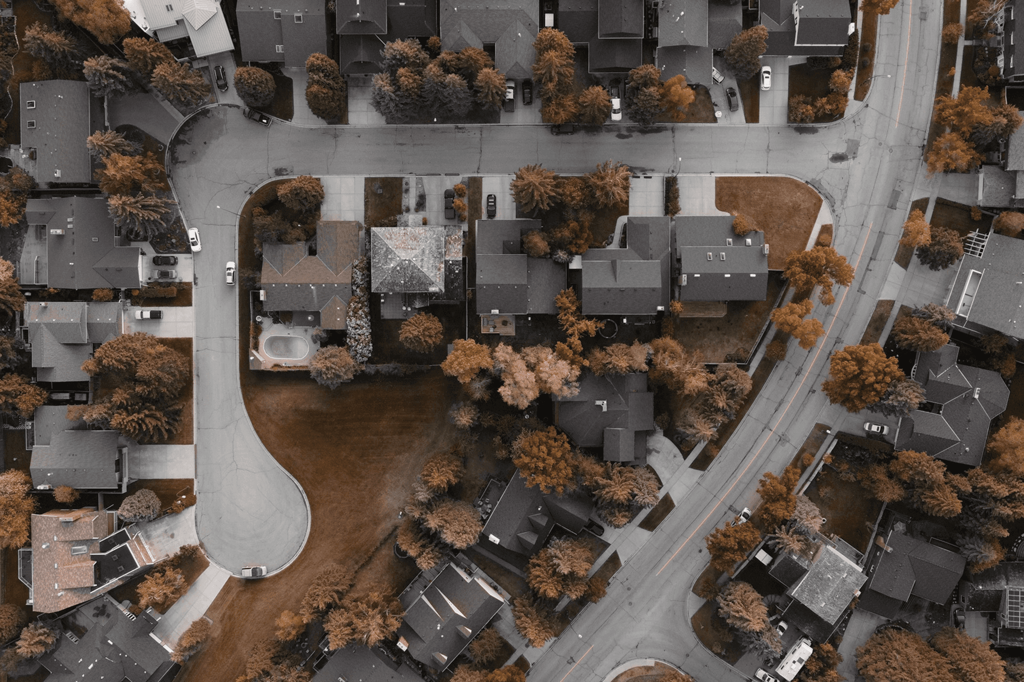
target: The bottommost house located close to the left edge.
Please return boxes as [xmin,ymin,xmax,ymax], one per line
[28,610,174,682]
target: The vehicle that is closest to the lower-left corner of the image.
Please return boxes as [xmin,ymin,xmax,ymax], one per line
[241,566,269,578]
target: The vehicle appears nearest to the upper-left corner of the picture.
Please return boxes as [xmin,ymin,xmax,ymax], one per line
[213,65,230,92]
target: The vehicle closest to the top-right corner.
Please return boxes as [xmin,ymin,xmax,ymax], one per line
[759,66,772,91]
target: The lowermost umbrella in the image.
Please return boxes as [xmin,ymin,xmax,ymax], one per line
[892,520,906,533]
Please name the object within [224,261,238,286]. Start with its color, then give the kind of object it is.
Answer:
white car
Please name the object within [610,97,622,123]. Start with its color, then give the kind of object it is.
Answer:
white vehicle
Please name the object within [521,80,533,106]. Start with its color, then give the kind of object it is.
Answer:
black vehicle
